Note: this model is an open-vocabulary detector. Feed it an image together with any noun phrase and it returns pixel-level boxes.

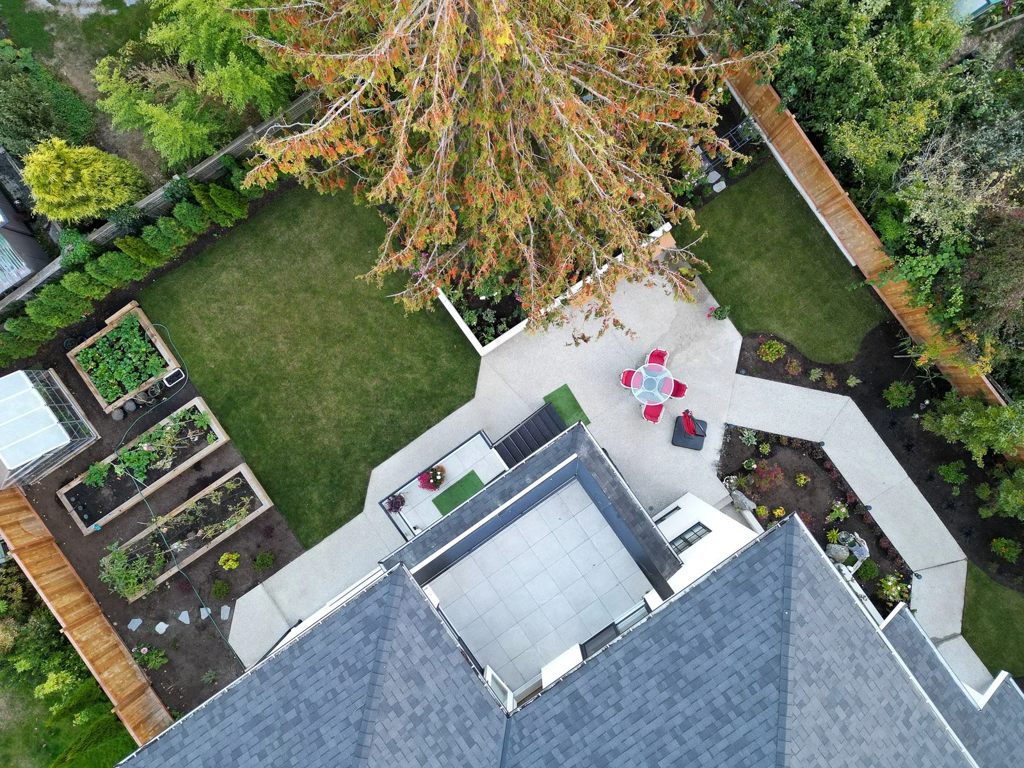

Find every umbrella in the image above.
[672,409,708,451]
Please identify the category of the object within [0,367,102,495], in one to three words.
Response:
greenhouse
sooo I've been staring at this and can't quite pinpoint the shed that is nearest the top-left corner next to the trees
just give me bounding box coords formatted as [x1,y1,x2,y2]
[0,188,49,299]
